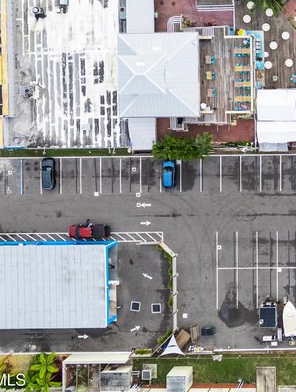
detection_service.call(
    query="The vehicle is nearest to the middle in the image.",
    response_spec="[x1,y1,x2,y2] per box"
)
[161,160,177,189]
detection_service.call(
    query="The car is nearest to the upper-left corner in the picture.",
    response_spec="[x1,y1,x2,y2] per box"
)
[39,158,57,190]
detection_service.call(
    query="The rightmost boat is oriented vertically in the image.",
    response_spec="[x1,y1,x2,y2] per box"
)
[282,293,296,344]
